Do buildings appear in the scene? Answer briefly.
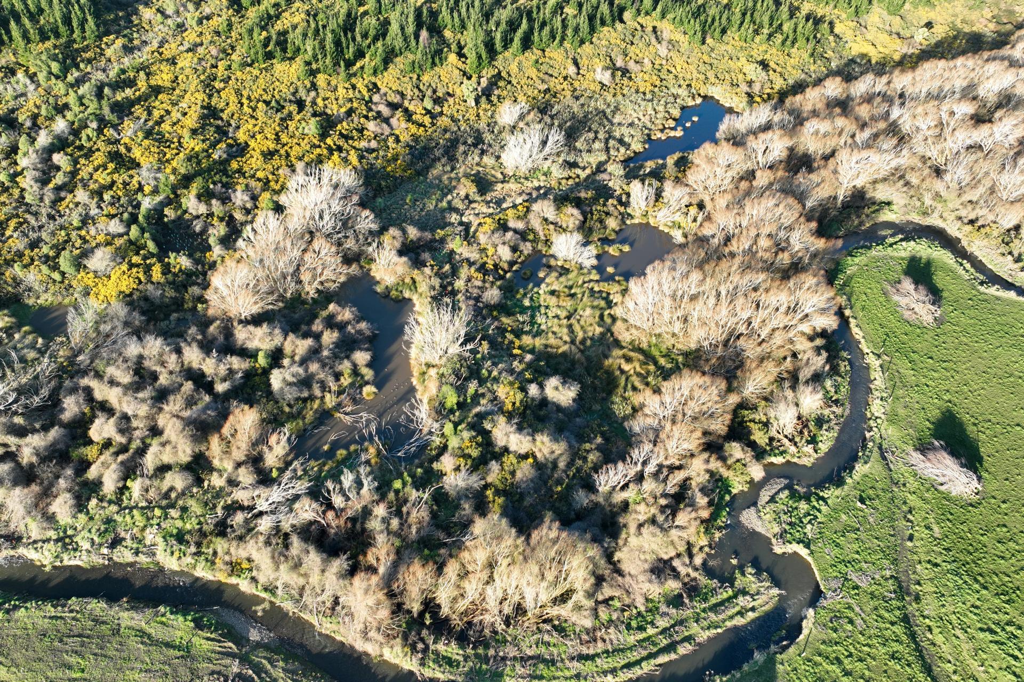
No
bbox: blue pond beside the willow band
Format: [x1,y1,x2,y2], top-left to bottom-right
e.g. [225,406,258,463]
[615,97,734,170]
